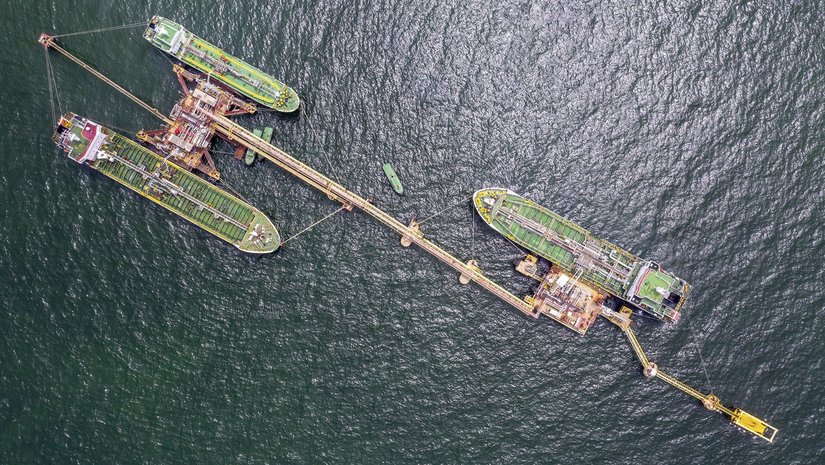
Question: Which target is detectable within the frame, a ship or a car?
ship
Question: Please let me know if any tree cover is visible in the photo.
No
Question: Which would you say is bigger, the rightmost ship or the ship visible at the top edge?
the rightmost ship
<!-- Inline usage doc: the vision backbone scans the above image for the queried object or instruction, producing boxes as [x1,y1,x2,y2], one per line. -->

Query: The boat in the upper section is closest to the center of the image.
[383,162,403,193]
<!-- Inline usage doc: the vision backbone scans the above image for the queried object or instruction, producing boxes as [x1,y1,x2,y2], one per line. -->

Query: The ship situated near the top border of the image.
[144,14,298,112]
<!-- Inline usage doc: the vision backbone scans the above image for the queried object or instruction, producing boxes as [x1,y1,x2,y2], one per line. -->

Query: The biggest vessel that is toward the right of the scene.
[474,189,693,319]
